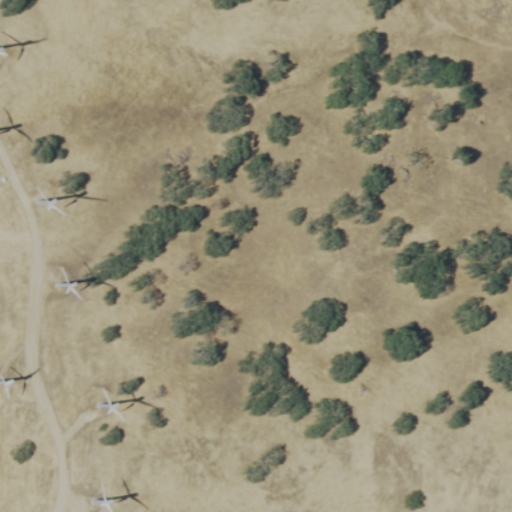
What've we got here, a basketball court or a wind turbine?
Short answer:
wind turbine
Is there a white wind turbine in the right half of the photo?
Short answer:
No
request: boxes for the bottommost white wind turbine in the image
[92,486,114,512]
